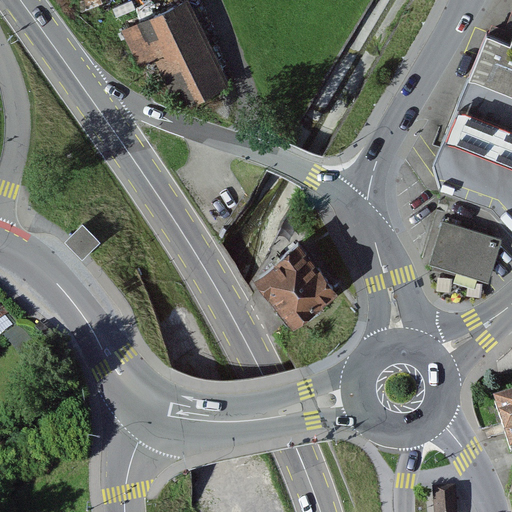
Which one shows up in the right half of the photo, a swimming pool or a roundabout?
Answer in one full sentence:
The one visible in the right half of the photo is a roundabout.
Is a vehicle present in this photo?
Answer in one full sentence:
Yes, there is a vehicle in the image.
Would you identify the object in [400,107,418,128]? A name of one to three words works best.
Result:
car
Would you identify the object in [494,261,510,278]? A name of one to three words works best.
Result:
car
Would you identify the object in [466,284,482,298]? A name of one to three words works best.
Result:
umbrella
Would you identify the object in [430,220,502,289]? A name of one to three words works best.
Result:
building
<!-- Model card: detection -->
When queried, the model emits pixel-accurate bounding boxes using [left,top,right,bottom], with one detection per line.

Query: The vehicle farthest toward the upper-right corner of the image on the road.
[457,13,472,33]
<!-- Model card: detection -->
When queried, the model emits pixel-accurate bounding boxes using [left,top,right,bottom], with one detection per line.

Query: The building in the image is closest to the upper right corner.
[470,34,512,98]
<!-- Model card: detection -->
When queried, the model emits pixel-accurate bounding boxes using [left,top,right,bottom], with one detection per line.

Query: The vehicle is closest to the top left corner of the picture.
[30,8,48,29]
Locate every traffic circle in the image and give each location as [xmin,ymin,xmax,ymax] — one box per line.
[340,327,462,449]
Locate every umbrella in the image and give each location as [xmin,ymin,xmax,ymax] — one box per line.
[452,293,461,303]
[436,278,452,292]
[466,284,482,298]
